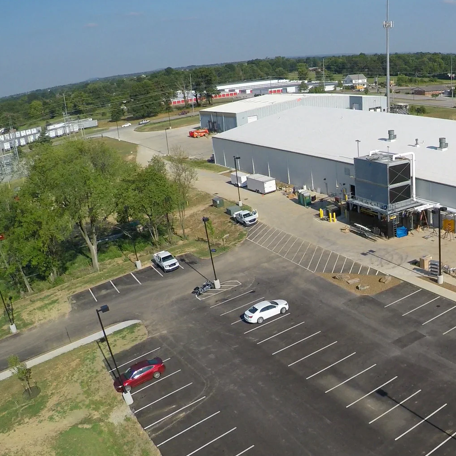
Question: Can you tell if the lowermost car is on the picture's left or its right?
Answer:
left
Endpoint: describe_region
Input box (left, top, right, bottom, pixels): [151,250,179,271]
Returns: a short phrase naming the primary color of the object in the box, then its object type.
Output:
white vehicle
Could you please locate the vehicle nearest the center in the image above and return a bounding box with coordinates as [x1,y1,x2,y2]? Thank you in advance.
[233,209,258,226]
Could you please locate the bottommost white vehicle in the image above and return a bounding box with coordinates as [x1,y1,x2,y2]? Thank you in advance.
[243,299,290,324]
